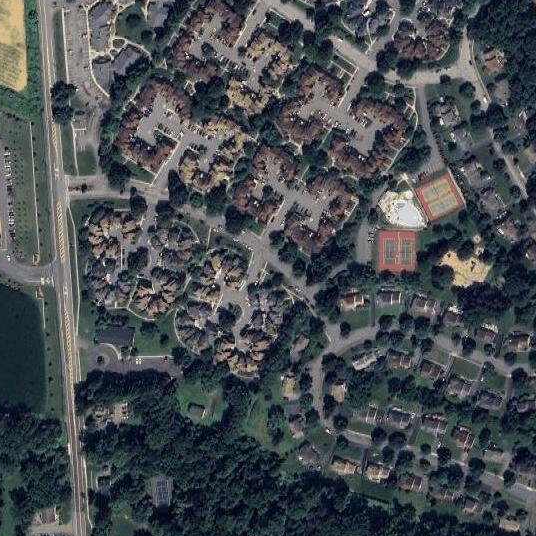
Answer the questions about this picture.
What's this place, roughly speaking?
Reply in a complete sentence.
The area seen from above is a residential area.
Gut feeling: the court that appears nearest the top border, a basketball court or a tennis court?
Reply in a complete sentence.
I'd say the court that appears nearest the top border is a tennis court.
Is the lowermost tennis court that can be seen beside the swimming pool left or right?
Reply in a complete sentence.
You can find the lowermost tennis court that can be seen beside the swimming pool on the right side of the picture.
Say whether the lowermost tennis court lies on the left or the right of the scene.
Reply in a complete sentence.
It is on the left.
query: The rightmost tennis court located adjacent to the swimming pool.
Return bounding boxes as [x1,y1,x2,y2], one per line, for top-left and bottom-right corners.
[413,168,464,223]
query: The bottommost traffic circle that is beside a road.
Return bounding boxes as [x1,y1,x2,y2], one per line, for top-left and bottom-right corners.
[213,294,249,335]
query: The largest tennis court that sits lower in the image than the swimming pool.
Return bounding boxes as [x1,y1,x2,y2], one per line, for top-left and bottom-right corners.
[378,229,415,270]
